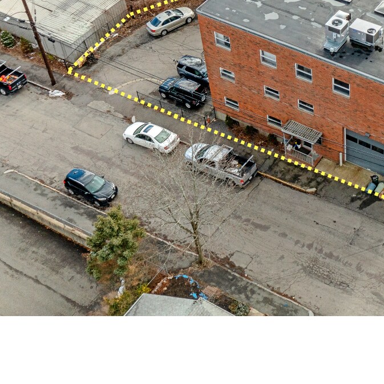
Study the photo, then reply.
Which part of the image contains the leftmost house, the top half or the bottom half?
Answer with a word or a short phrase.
bottom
